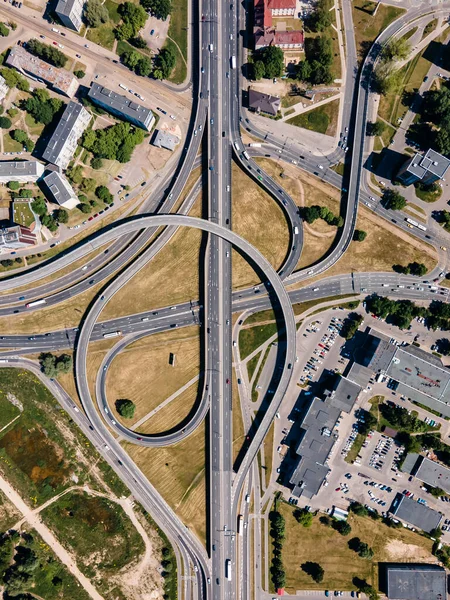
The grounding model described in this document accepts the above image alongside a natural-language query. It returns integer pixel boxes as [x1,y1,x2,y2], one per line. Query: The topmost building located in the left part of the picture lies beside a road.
[56,0,87,32]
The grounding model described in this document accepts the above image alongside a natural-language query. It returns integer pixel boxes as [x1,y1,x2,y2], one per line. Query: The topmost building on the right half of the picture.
[254,0,304,51]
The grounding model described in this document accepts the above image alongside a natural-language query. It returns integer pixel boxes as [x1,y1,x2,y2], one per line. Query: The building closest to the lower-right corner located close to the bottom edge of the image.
[386,565,446,600]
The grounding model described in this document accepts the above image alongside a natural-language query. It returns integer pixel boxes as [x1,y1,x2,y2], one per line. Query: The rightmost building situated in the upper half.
[418,148,450,183]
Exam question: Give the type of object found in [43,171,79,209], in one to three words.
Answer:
building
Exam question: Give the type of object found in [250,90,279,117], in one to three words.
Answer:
house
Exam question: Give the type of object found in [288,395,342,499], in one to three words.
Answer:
building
